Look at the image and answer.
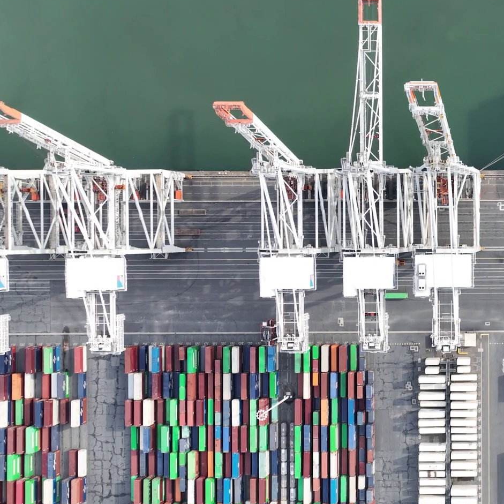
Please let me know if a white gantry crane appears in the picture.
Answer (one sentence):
Yes, you can see a white gantry crane in this photo.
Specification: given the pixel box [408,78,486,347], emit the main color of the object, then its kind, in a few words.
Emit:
white container crane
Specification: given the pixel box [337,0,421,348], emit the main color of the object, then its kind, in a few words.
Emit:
white container crane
